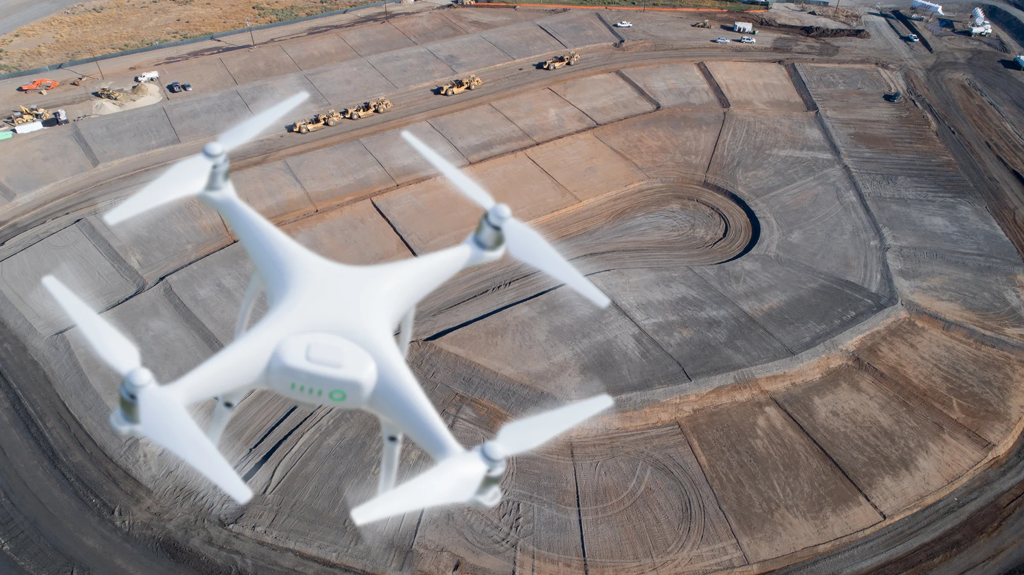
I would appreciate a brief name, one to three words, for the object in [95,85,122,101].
work vehicle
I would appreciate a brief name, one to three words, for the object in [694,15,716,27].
vehicle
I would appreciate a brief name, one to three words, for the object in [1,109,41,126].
work vehicle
